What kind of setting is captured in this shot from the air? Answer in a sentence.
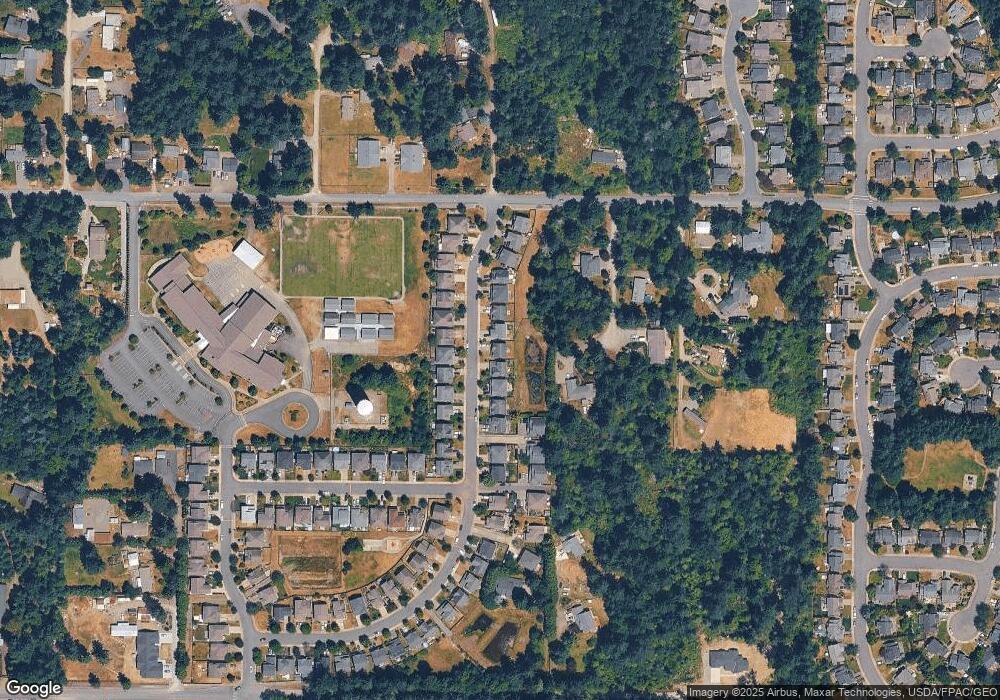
This image shows a residential area.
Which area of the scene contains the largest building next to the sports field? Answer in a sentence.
The largest building next to the sports field is located in the left region of the scene.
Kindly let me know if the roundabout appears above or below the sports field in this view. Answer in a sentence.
Looking at the photo, you'll find the roundabout below the sports field.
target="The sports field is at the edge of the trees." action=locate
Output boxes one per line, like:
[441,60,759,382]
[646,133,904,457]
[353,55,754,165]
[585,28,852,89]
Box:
[278,215,406,302]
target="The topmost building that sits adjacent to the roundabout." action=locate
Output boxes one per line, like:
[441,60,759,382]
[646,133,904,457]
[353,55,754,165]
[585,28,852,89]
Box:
[148,253,286,391]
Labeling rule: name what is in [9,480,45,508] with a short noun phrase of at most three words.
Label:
house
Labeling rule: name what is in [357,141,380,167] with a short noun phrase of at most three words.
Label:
barn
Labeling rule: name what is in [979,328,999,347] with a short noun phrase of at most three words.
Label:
house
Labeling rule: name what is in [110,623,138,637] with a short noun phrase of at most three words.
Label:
barn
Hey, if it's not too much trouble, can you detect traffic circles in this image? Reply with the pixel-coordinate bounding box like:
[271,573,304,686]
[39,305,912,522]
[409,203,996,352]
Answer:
[229,388,321,443]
